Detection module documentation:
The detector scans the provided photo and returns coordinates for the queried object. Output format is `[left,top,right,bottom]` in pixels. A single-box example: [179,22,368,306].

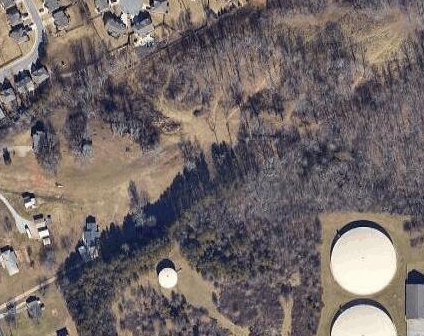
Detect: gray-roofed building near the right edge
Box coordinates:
[406,284,424,319]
